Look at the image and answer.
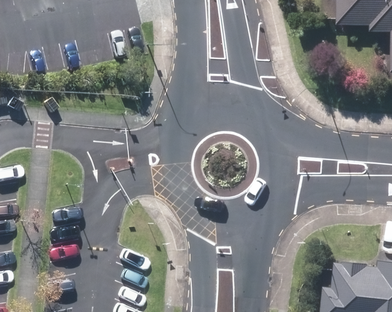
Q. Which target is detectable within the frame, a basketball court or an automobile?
automobile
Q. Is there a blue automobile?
Yes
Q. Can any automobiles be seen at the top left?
Yes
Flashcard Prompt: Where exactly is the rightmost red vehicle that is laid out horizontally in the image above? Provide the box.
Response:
[48,244,80,260]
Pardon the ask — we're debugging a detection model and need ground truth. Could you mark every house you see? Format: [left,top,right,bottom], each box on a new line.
[336,0,392,72]
[320,261,392,312]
